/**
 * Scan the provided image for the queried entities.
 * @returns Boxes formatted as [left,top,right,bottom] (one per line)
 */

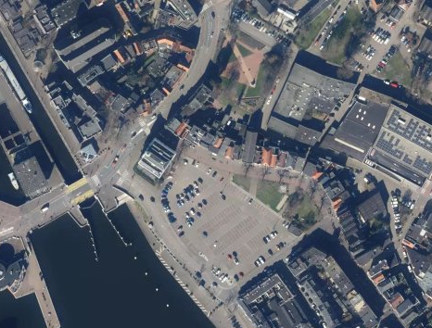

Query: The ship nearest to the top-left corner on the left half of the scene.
[0,56,31,112]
